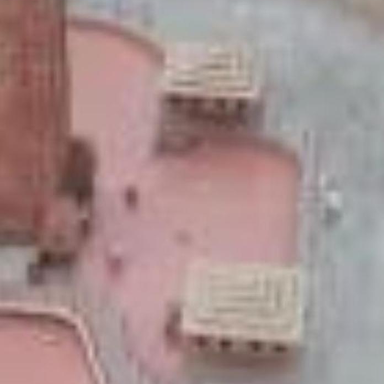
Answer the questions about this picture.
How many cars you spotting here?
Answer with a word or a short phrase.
zero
